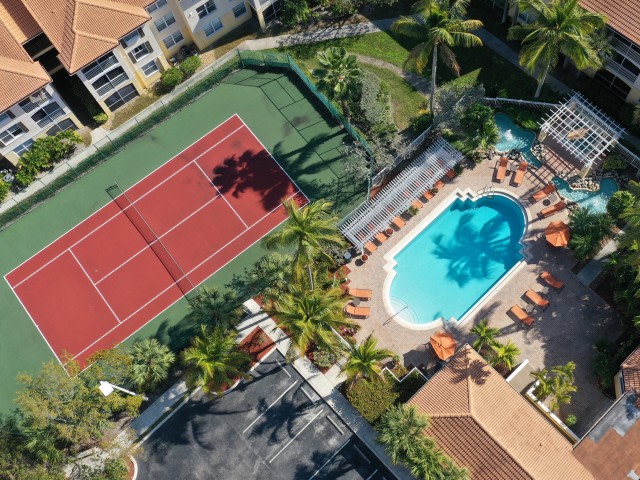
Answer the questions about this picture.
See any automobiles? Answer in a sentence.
No, I find no automobile anywhere in the image.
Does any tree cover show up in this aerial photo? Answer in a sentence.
Yes, some tree cover is visible.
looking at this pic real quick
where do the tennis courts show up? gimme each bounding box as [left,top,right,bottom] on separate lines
[0,66,372,455]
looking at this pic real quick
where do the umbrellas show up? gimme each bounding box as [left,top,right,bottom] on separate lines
[542,224,571,251]
[426,331,459,364]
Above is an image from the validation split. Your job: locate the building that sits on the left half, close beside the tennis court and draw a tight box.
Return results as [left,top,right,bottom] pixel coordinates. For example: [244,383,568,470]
[0,0,304,183]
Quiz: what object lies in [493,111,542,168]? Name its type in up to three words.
swimming pool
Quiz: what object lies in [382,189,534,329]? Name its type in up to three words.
swimming pool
